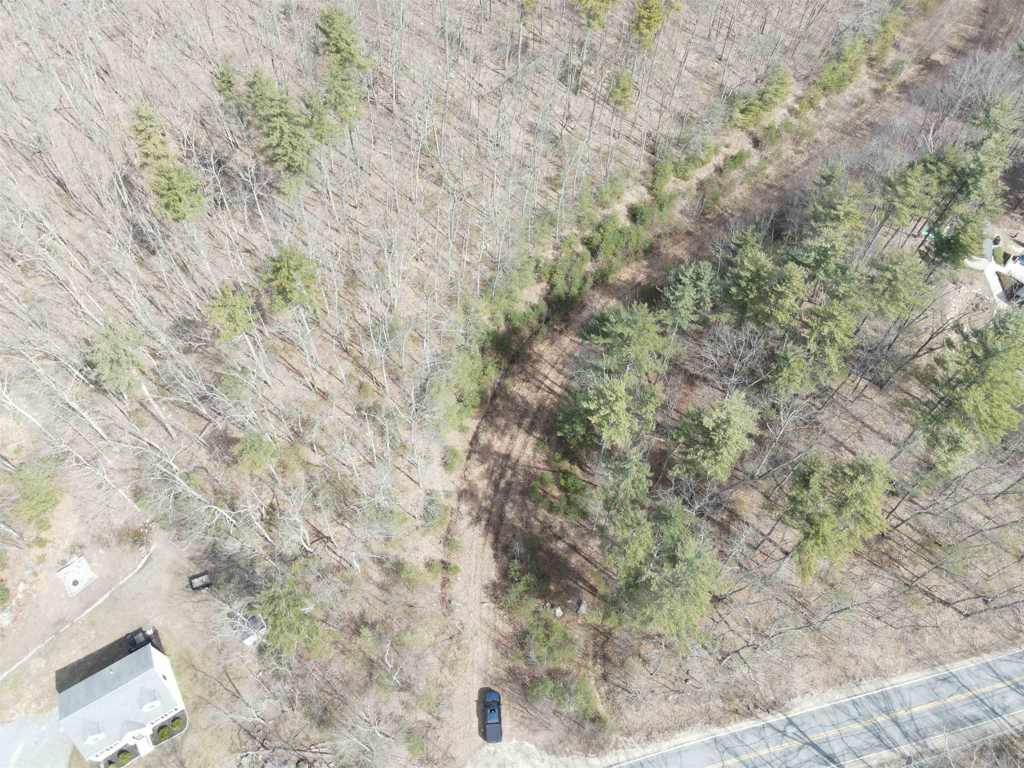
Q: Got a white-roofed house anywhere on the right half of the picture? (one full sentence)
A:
No, no white-roofed house is visible on the right half of the picture.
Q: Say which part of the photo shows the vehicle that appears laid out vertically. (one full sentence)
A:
The vehicle that appears laid out vertically is located in the bottom region of the scene.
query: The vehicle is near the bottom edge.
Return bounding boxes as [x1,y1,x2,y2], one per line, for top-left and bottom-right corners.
[484,691,504,743]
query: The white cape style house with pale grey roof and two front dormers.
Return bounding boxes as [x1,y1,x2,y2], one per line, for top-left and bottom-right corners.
[53,630,186,761]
